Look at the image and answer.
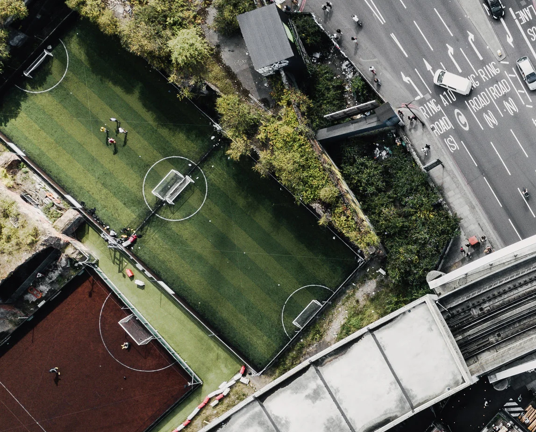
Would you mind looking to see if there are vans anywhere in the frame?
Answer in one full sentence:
Yes, a van can be made out from above.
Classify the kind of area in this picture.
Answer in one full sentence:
This image shows a sports ground.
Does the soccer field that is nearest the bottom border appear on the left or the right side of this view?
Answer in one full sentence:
You can find the soccer field that is nearest the bottom border on the left side of the picture.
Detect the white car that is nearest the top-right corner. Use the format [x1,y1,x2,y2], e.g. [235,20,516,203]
[515,52,536,95]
